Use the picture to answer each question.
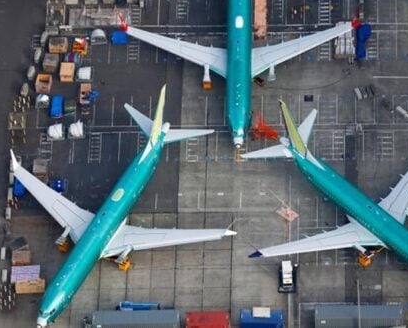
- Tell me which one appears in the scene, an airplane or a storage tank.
airplane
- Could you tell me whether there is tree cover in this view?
No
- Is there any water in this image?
No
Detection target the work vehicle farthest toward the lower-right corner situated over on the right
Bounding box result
[278,263,297,295]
